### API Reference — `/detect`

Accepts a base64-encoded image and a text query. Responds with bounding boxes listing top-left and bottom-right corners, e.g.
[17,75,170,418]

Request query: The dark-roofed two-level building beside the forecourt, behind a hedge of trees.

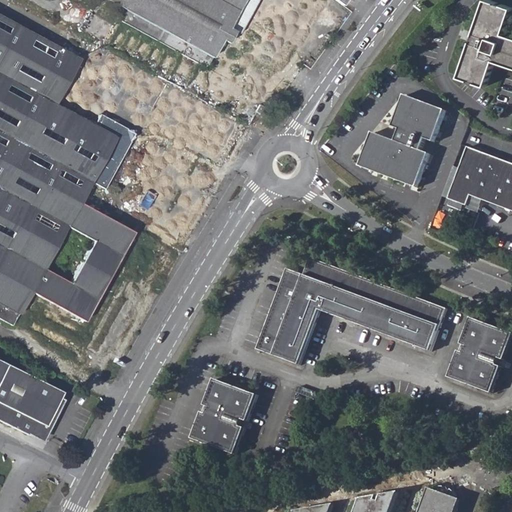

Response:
[0,358,72,442]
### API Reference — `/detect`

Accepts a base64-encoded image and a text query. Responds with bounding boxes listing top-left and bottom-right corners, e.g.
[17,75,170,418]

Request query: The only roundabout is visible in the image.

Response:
[255,134,318,196]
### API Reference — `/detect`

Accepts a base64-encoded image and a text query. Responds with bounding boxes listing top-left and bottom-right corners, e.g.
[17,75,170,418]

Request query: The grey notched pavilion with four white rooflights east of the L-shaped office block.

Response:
[446,316,512,392]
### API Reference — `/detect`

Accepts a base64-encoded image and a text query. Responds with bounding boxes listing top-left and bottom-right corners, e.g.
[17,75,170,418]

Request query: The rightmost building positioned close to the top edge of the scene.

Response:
[454,2,512,90]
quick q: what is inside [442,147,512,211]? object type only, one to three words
building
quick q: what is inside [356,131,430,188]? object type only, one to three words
building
